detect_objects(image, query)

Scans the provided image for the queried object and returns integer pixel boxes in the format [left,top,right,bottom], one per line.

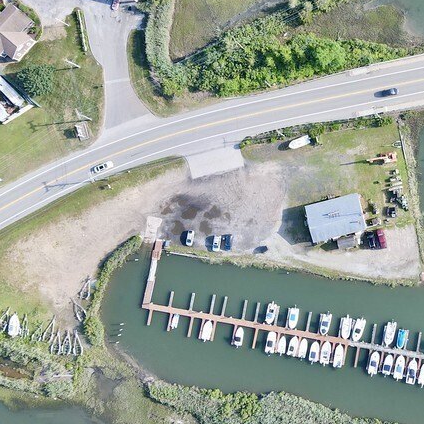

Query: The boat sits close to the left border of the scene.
[8,312,20,340]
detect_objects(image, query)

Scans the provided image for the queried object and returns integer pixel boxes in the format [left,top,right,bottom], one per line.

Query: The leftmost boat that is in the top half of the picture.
[288,134,312,149]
